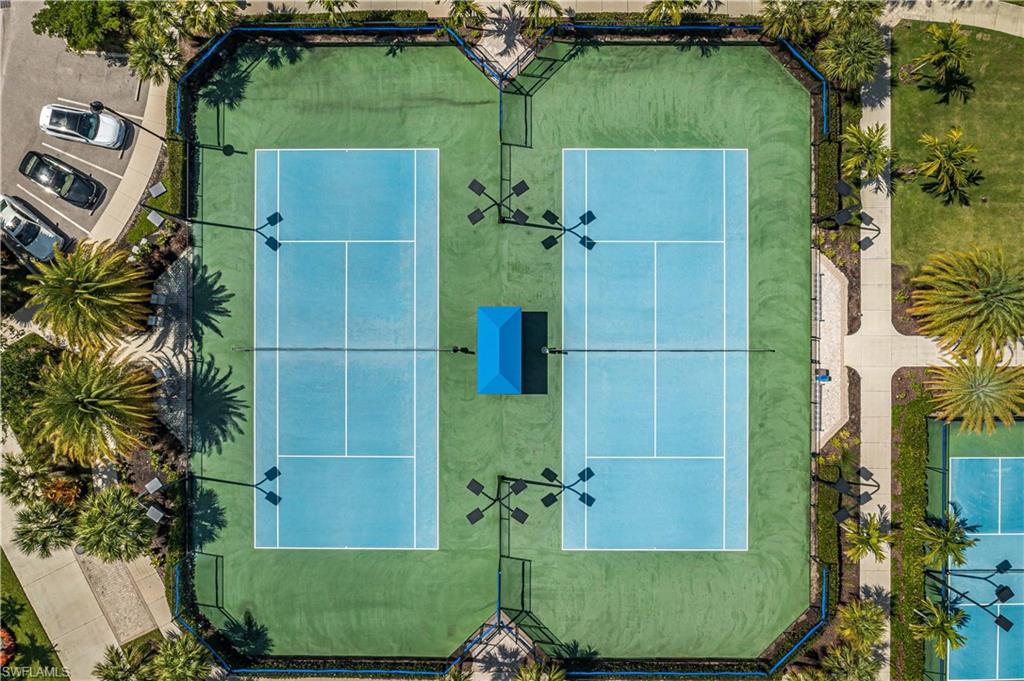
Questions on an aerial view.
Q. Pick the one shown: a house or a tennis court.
tennis court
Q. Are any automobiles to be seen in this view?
Yes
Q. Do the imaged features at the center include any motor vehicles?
No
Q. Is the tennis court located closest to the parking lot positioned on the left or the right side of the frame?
left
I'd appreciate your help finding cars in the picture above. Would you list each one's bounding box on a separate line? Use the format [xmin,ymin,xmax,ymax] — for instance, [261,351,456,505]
[14,150,98,208]
[37,100,122,148]
[0,195,59,260]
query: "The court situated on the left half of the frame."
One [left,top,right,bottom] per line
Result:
[192,40,501,657]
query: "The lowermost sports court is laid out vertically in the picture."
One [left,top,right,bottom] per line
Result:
[928,418,1024,681]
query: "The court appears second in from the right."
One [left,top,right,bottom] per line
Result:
[501,40,812,657]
